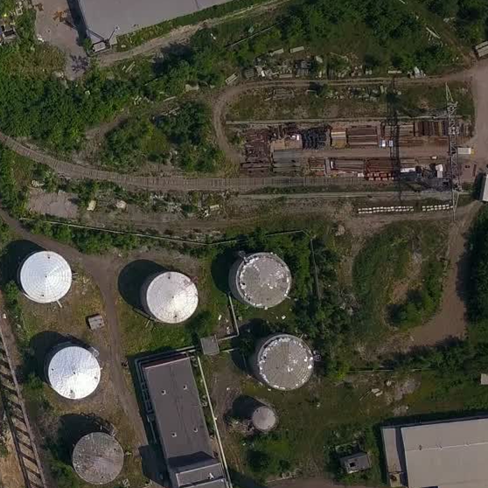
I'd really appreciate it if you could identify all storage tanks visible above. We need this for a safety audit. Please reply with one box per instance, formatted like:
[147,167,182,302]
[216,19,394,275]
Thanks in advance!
[252,330,317,391]
[229,251,292,307]
[19,249,75,307]
[142,270,199,327]
[70,425,125,485]
[47,340,101,399]
[243,402,276,430]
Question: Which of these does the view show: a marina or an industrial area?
industrial area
